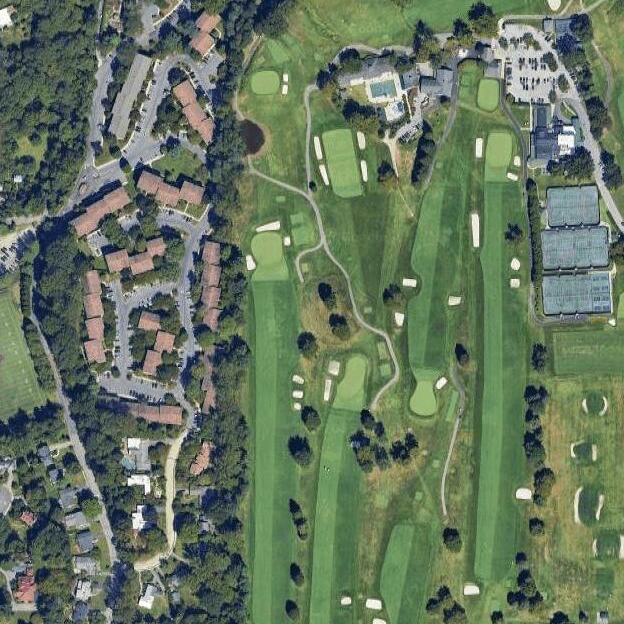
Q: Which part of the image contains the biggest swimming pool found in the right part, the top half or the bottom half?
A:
top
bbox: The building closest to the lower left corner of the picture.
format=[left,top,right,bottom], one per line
[7,563,36,603]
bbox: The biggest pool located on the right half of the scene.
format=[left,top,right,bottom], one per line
[364,71,404,104]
